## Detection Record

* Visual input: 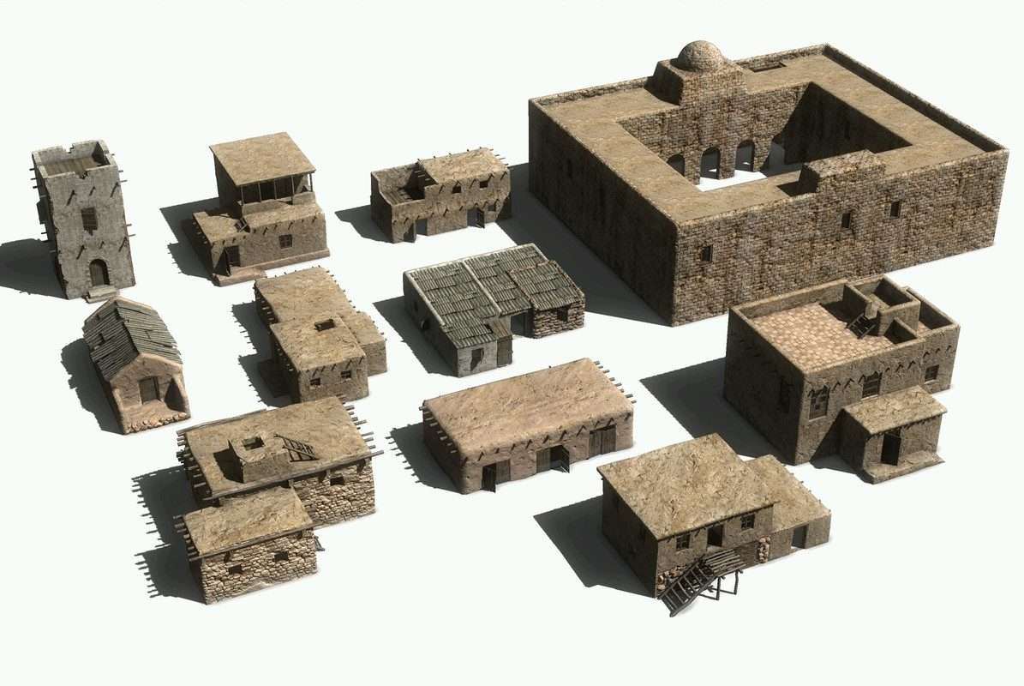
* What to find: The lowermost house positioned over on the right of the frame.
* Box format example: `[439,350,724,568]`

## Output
[598,434,832,597]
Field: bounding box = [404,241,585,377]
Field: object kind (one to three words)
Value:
house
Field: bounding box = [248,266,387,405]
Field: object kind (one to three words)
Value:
house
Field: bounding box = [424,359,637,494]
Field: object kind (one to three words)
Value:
barn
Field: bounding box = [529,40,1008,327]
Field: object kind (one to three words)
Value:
building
